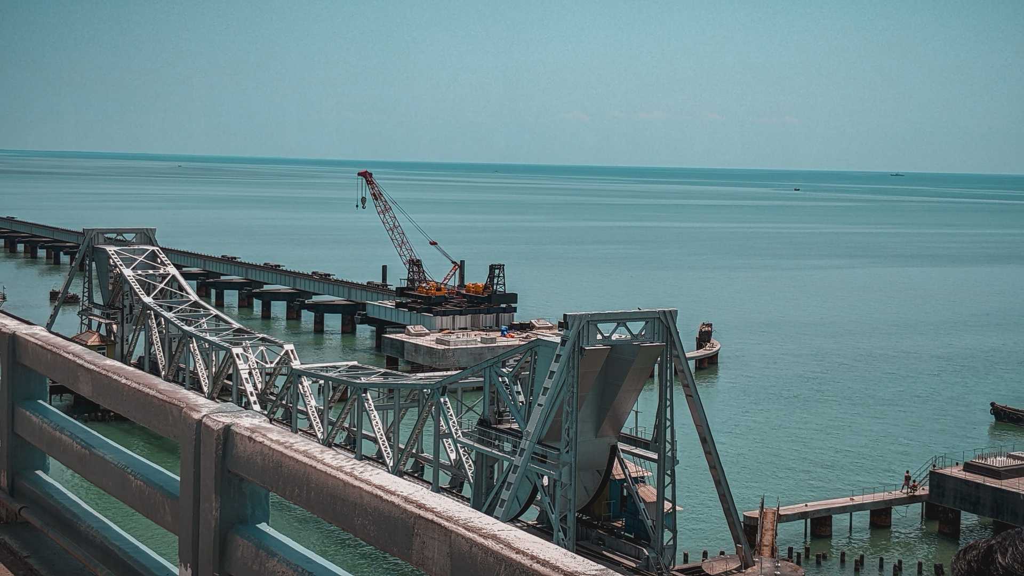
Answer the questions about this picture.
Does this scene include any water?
Yes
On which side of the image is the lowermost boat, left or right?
right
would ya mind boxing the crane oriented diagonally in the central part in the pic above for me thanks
[356,174,463,291]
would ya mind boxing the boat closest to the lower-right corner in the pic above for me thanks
[992,400,1024,425]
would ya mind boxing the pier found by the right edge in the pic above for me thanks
[740,486,973,552]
